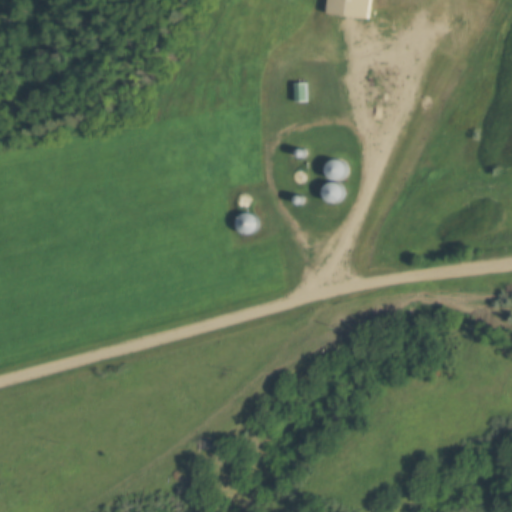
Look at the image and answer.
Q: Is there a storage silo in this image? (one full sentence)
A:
Yes, looking at the shot, I can spot a storage silo.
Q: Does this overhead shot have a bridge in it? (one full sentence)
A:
No, there is no bridge in the image.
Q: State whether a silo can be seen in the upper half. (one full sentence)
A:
Yes, the scene does show a silo in the upper half.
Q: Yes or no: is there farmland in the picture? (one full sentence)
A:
Yes, there is farmland in the image.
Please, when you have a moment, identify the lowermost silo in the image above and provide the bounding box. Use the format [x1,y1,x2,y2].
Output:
[236,212,260,235]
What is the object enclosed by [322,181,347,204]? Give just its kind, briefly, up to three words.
silo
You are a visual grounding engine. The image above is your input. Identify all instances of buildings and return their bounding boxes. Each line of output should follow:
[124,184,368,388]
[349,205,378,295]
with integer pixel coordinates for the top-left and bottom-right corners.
[326,0,374,21]
[294,82,310,103]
